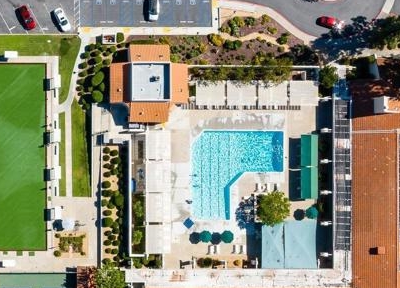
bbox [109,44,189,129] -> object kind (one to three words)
building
